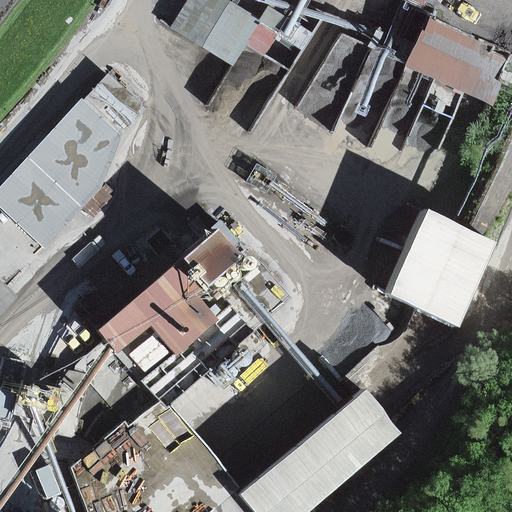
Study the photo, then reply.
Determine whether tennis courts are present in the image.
No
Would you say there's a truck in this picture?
Yes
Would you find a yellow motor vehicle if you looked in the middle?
Yes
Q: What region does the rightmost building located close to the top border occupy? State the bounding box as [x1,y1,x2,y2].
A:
[404,16,508,106]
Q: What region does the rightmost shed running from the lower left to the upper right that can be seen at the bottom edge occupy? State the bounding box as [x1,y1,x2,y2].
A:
[240,387,400,512]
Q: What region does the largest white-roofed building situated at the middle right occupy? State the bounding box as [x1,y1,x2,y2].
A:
[388,209,496,326]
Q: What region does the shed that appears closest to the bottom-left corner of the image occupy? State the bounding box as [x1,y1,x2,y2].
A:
[36,464,62,499]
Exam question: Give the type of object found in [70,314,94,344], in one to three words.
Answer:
work vehicle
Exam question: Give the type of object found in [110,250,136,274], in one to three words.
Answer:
truck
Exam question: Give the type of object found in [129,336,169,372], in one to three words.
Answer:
house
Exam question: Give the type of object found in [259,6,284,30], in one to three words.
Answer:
shed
